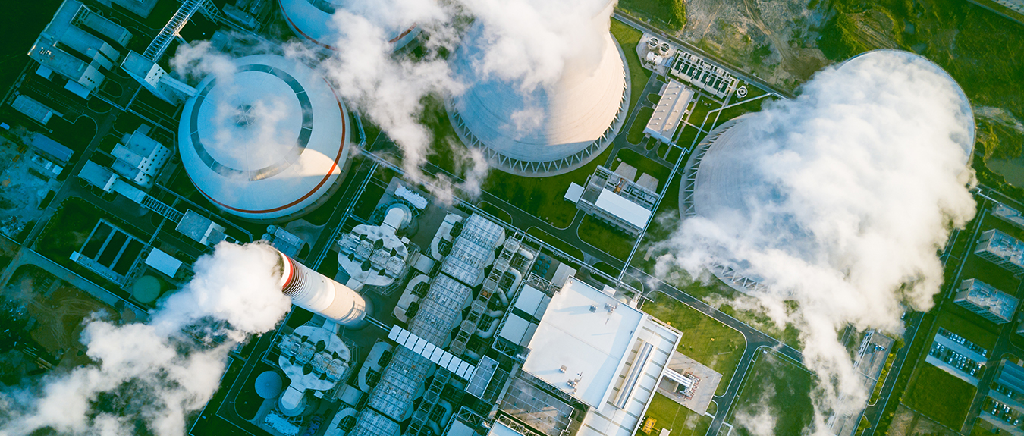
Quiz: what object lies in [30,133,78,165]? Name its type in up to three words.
shed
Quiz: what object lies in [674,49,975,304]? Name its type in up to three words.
cooling tower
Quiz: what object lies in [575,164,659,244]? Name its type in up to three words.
building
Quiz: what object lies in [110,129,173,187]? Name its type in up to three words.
house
